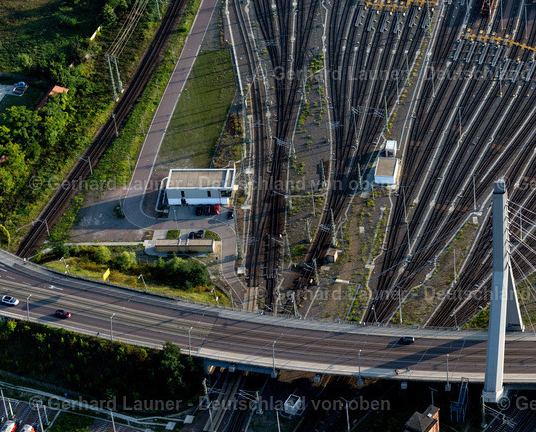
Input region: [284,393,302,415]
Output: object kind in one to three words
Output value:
building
